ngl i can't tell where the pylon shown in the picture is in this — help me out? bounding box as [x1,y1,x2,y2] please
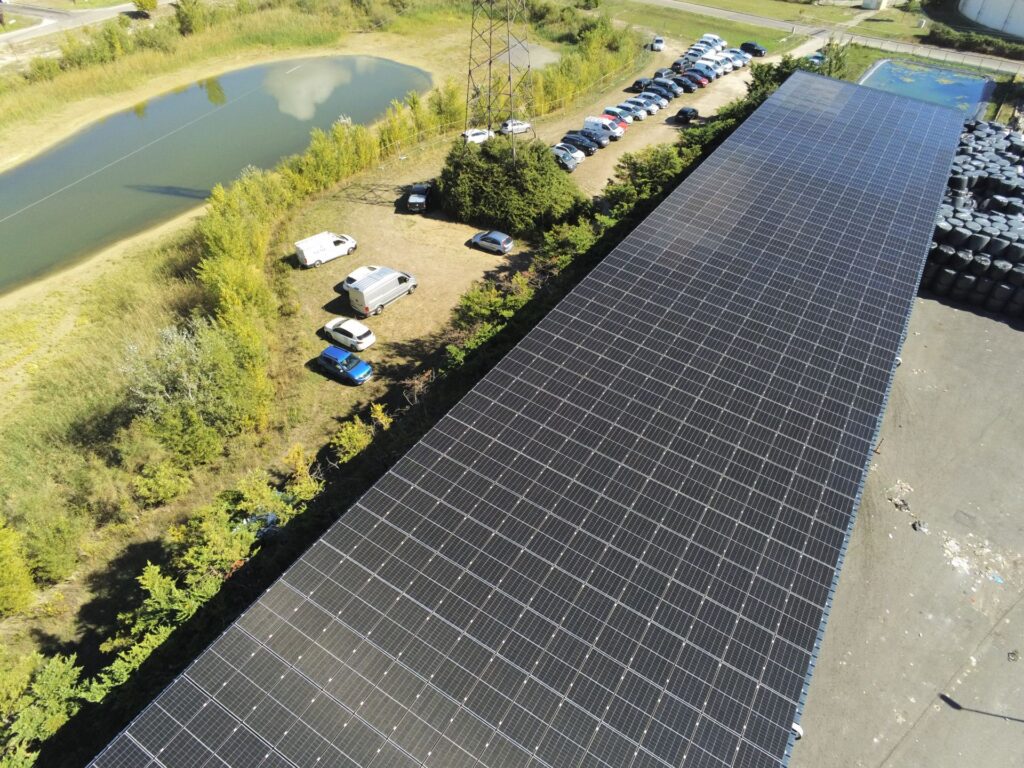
[465,0,535,235]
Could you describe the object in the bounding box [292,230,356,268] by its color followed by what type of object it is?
white van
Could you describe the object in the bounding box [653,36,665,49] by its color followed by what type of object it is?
white vehicle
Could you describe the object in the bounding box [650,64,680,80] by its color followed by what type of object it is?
gray vehicle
